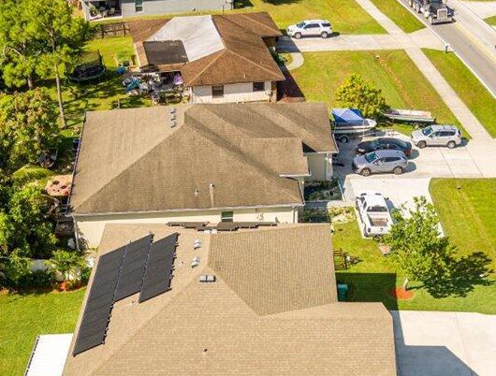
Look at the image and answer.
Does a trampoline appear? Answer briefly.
Yes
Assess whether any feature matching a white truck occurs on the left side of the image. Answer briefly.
No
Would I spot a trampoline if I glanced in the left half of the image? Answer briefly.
Yes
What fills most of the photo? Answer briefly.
buildings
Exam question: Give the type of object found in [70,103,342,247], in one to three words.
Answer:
house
